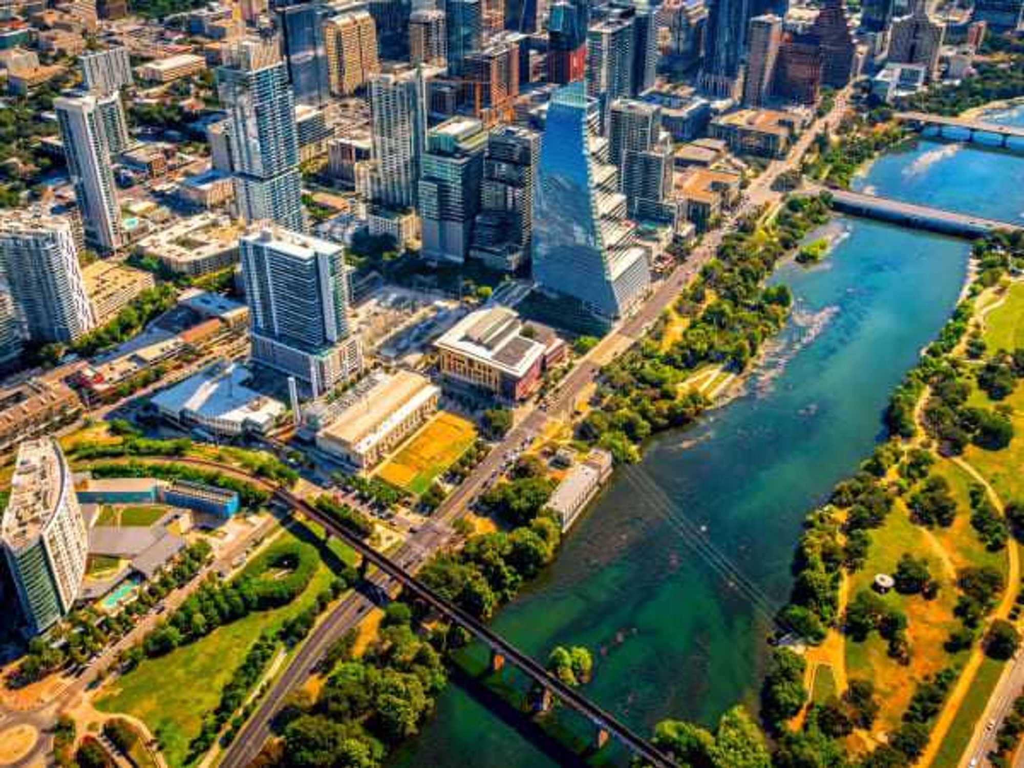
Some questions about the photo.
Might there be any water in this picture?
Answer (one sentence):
Yes, some water is visible.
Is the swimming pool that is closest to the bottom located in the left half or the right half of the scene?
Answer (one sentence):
The swimming pool that is closest to the bottom is on the left side of the image.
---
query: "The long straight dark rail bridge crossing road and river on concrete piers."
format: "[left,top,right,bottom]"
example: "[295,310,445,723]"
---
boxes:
[276,491,686,768]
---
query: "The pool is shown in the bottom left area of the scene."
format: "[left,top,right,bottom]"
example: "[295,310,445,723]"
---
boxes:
[94,576,145,613]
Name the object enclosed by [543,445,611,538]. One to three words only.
building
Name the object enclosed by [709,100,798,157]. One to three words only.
building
